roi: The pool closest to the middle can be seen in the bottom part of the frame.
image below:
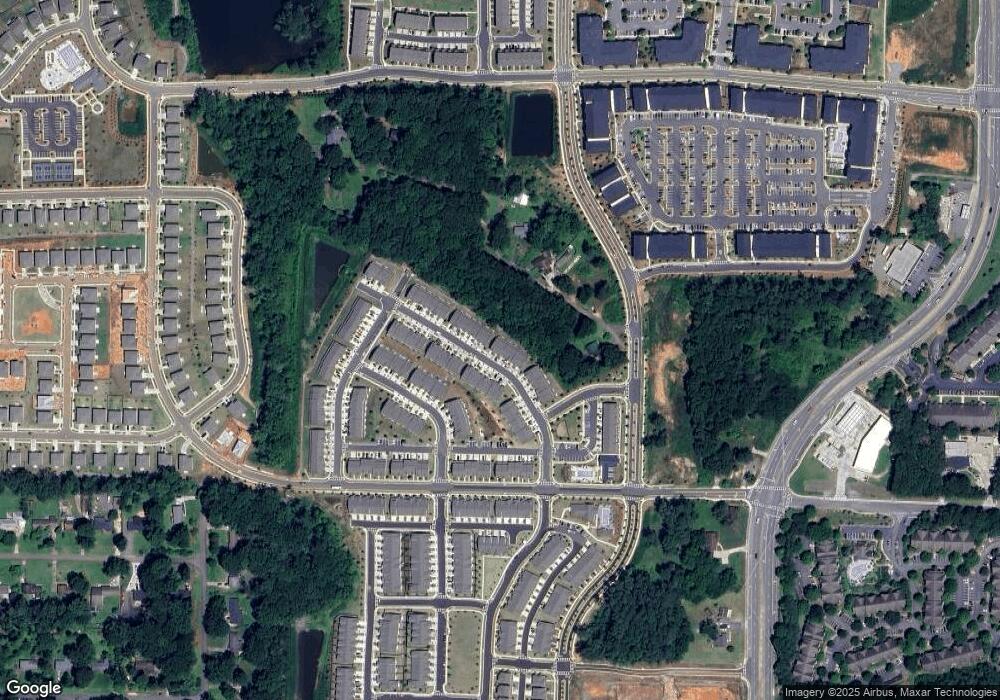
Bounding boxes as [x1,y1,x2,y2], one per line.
[571,465,603,482]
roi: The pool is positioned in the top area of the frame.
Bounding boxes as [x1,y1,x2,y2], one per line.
[41,40,91,91]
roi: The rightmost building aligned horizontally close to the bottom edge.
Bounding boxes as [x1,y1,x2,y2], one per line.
[920,638,985,669]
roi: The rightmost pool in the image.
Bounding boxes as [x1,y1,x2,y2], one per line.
[848,560,875,584]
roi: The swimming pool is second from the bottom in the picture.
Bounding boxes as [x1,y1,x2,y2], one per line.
[597,504,613,528]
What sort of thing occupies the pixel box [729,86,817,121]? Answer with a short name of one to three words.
building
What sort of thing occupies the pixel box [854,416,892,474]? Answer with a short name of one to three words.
building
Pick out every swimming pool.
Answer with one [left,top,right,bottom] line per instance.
[571,465,603,482]
[41,40,91,91]
[848,560,875,584]
[597,504,613,528]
